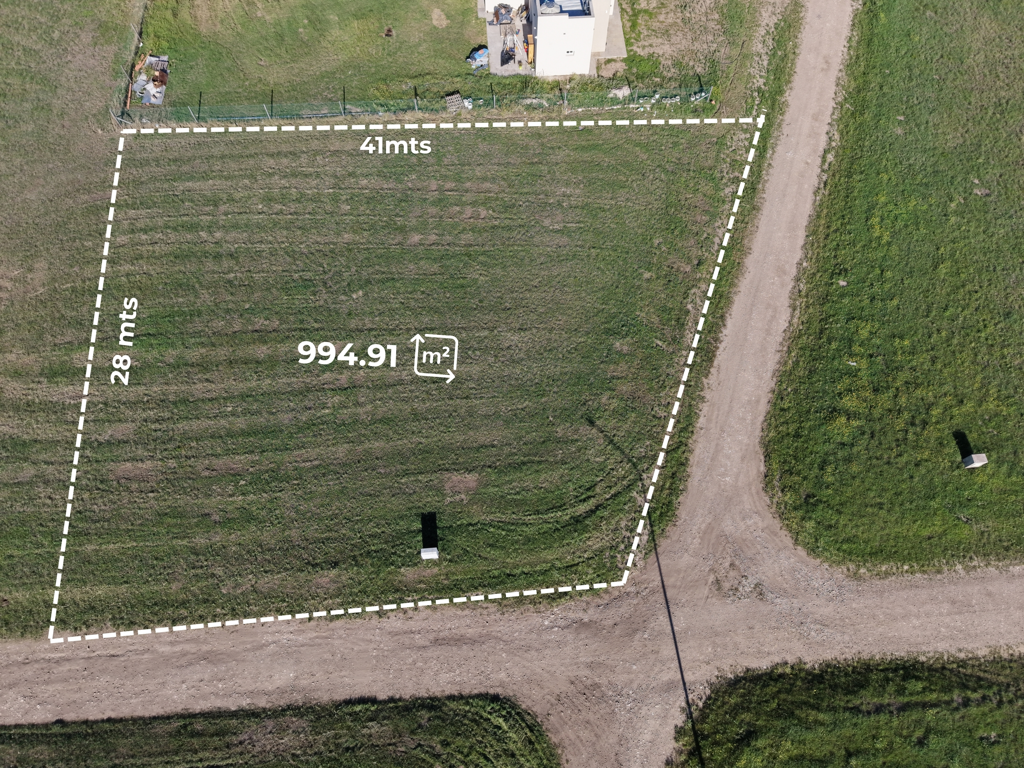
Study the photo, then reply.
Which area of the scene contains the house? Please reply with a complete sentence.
The house is located in the top region of the scene.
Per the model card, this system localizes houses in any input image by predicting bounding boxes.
[485,0,614,75]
